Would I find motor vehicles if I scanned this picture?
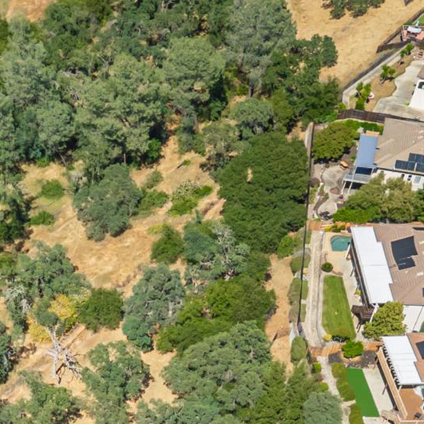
No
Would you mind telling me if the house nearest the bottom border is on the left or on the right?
right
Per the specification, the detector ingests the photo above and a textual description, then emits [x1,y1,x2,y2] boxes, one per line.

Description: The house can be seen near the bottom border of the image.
[374,332,424,424]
